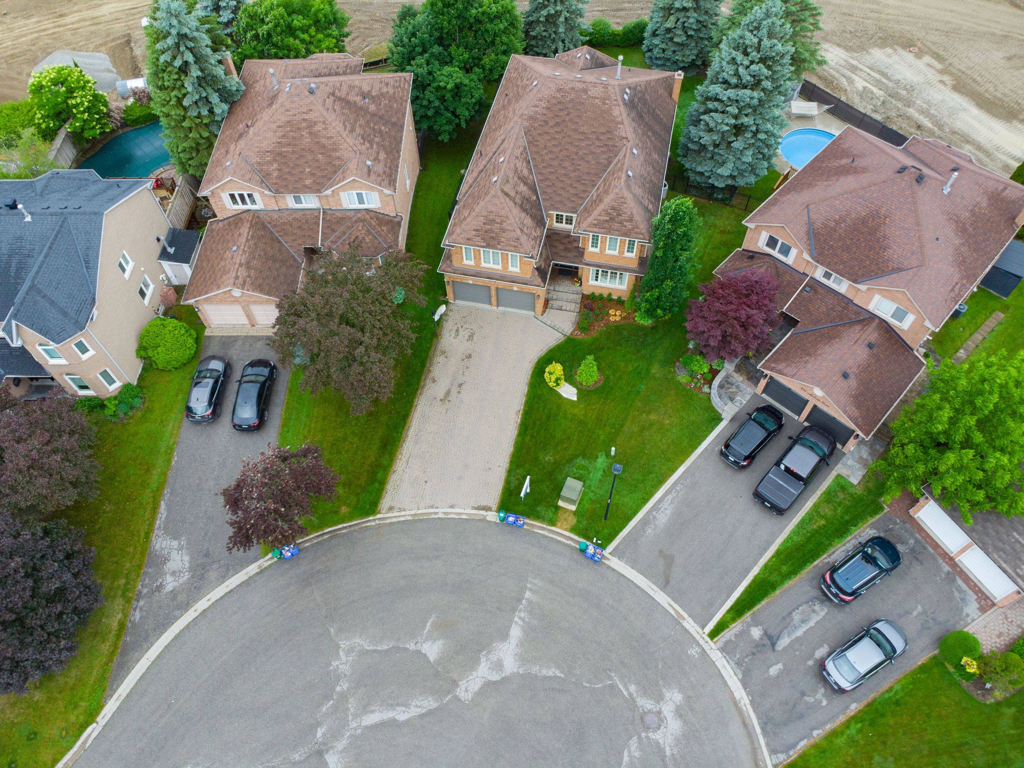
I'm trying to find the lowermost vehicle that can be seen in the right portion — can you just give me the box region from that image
[813,623,913,700]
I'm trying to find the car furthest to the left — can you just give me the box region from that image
[181,357,231,425]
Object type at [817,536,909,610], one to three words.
car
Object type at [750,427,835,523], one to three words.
truck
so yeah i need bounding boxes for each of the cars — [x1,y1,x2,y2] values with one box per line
[181,357,231,425]
[719,404,787,477]
[228,362,275,434]
[813,623,913,700]
[817,536,909,610]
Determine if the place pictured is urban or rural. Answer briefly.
urban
